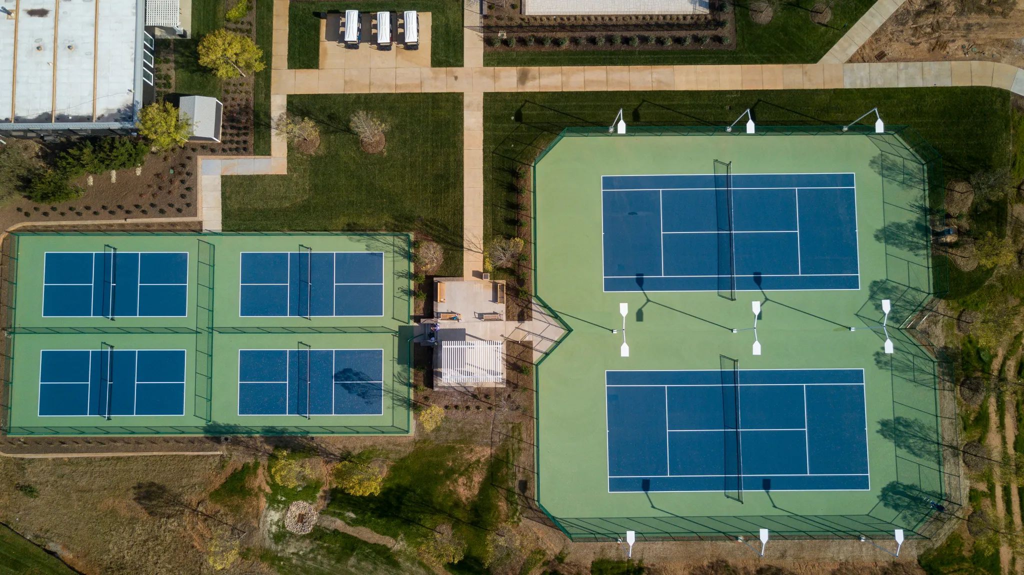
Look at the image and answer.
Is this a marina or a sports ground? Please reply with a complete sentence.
The area seen from above is a sports ground.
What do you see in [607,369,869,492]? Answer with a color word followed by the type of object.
blue tennis court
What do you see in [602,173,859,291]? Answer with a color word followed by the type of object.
blue tennis court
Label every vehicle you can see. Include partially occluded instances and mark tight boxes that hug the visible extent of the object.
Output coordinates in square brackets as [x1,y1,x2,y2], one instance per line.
[343,11,362,50]
[406,12,421,51]
[377,12,394,52]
